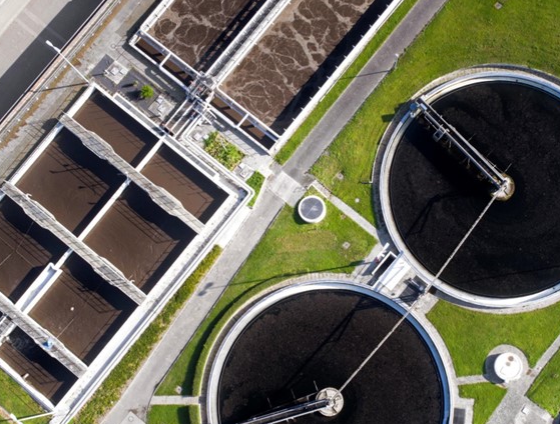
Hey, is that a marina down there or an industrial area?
industrial area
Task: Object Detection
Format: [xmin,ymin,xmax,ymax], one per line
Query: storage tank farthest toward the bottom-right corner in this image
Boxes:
[493,352,523,381]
